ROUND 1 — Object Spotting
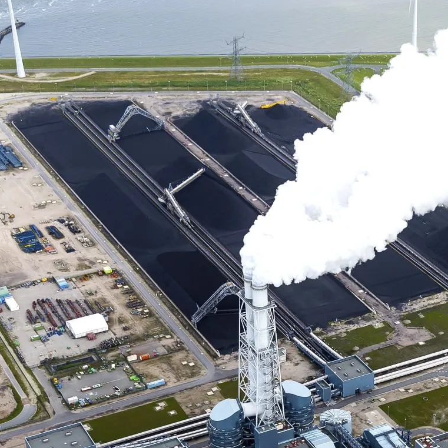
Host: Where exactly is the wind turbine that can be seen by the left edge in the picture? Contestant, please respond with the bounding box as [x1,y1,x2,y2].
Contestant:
[3,0,29,79]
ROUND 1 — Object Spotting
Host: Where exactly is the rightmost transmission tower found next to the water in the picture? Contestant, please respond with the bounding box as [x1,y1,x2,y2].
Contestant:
[348,51,365,96]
